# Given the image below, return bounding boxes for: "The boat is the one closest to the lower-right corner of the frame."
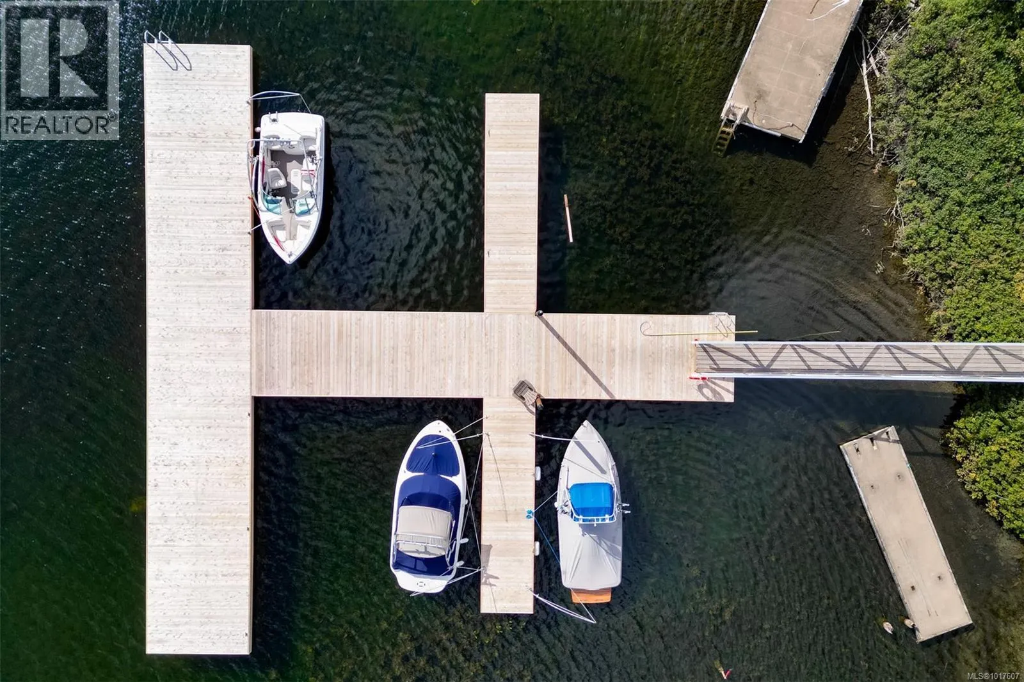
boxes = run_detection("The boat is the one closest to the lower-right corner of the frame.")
[556,418,630,604]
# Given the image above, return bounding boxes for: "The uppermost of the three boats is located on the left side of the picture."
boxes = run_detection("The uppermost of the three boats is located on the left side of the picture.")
[247,111,327,264]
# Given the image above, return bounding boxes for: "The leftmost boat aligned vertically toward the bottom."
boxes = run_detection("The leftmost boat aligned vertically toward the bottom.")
[390,419,467,593]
